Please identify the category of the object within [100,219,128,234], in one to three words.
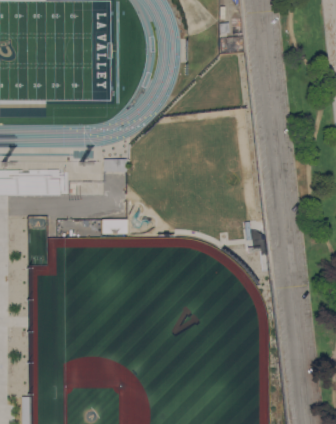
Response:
building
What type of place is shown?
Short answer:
sports ground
